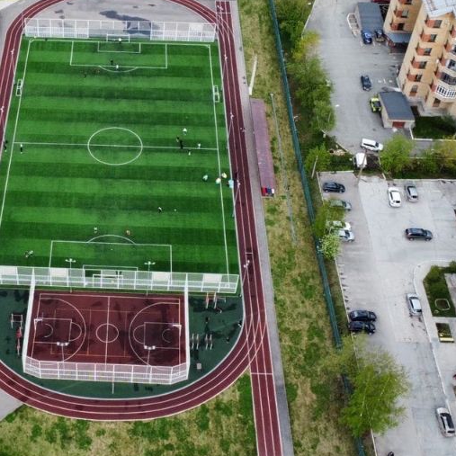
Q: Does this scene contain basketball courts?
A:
Yes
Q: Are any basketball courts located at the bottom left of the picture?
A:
Yes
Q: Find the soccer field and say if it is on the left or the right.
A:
left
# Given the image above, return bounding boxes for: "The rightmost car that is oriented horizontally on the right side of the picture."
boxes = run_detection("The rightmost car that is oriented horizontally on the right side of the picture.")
[403,227,432,240]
